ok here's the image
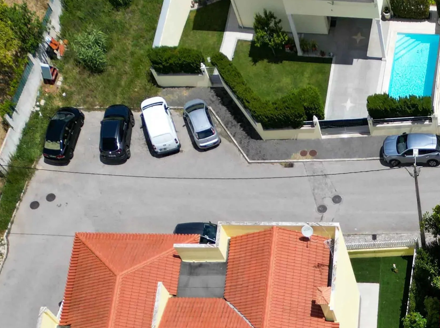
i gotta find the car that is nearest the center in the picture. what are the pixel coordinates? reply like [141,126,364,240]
[182,101,224,151]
